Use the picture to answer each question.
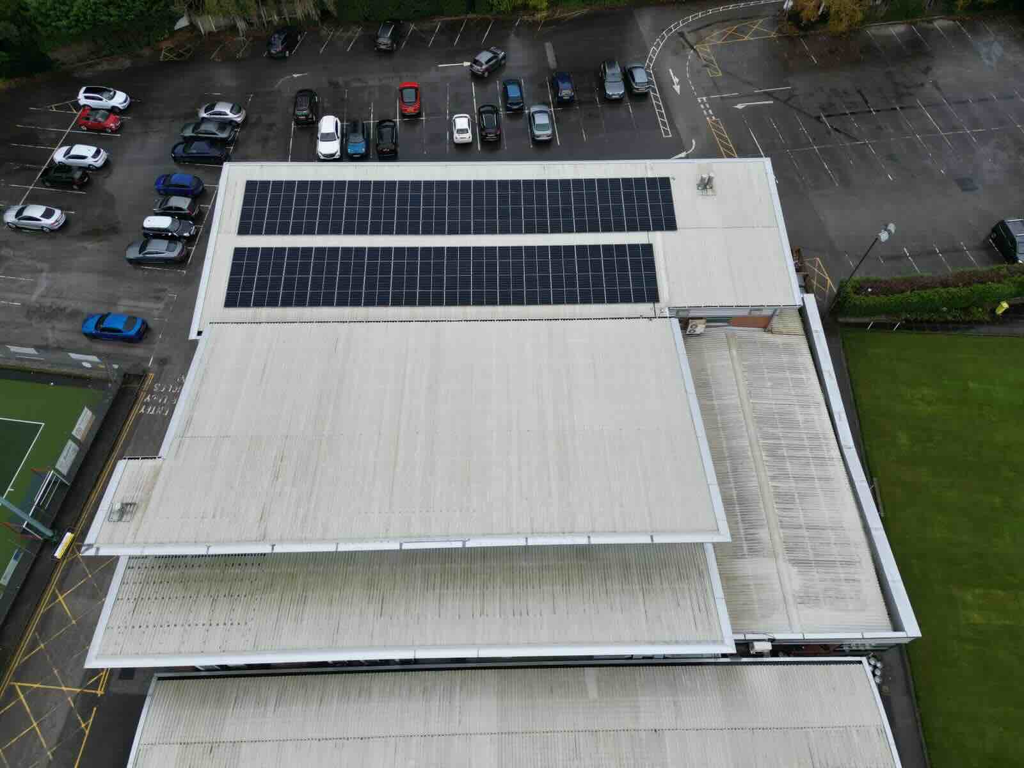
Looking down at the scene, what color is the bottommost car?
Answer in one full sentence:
The bottommost car looks blue in the image.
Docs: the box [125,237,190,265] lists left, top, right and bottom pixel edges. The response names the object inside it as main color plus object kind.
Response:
gray car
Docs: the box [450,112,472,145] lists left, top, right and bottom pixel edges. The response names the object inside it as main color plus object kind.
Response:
white car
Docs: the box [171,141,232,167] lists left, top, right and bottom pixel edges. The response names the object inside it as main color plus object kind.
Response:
black car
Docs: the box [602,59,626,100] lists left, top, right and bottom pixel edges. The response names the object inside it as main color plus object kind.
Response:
gray car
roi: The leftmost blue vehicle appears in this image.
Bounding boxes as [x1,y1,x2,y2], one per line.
[80,312,151,344]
